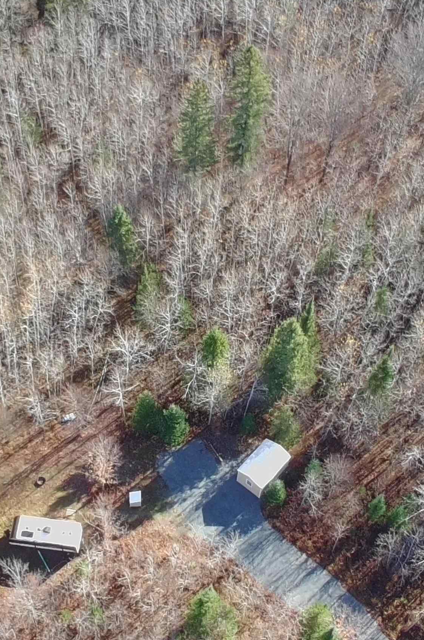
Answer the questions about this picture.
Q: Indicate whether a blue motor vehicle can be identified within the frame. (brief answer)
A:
No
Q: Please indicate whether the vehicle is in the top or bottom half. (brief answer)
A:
bottom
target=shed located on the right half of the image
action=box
[235,440,291,499]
